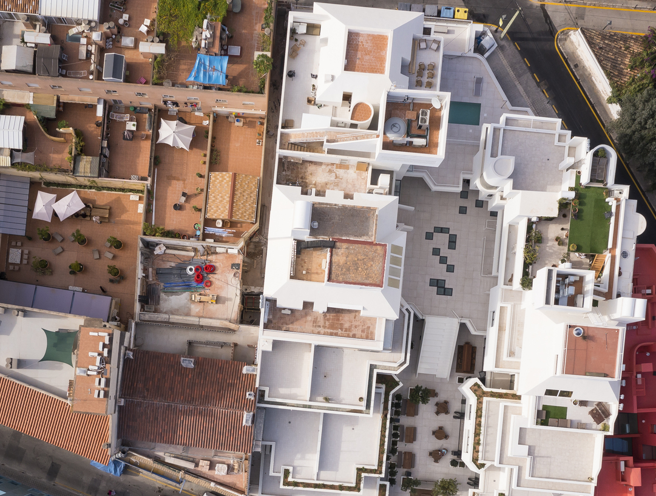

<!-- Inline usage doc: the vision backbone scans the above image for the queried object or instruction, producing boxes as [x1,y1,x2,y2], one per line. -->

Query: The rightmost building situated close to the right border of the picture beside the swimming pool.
[470,113,651,402]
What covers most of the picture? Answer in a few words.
buildings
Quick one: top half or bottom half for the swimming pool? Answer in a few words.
top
